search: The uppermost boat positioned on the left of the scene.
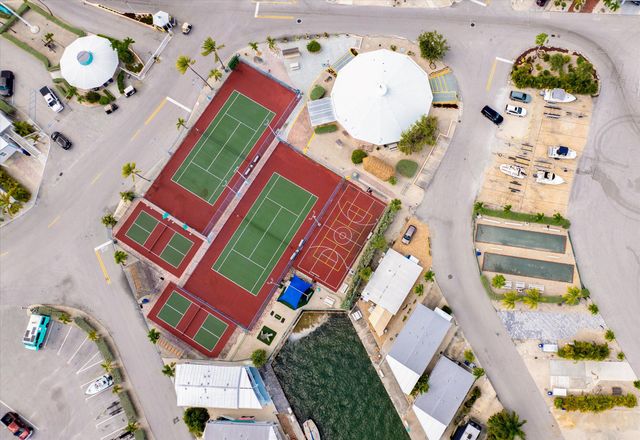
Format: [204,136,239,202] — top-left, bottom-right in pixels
[83,372,115,394]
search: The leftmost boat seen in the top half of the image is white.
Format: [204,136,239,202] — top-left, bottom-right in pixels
[499,165,531,180]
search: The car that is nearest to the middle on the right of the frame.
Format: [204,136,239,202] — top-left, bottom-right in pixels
[400,222,418,246]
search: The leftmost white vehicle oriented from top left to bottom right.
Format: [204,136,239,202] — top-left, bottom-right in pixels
[41,88,62,111]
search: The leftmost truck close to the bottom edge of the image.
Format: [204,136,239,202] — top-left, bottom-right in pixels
[4,412,32,439]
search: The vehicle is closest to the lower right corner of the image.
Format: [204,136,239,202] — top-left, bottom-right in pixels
[453,415,481,440]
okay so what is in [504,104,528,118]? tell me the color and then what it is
white vehicle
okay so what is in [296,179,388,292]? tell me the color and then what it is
red basketball court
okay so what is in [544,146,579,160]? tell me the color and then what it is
white boat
